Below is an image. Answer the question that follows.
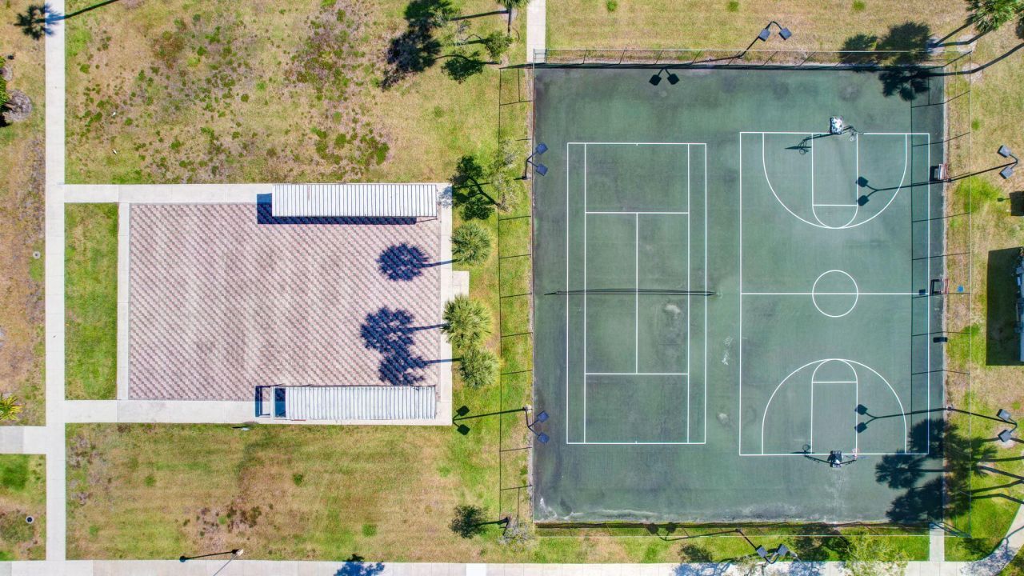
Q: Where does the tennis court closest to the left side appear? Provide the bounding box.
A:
[534,64,723,522]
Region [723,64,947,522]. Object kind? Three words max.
basketball court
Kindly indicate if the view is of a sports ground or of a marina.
sports ground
